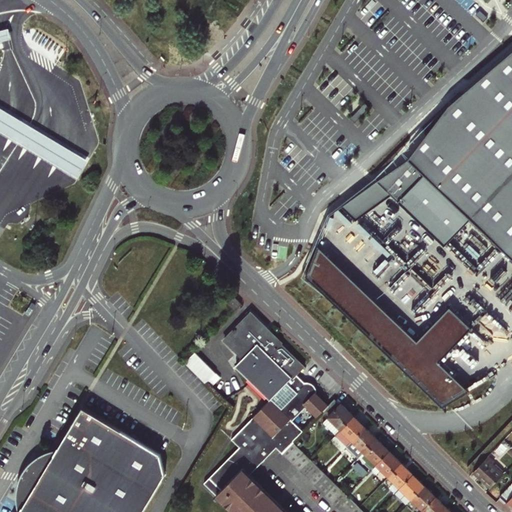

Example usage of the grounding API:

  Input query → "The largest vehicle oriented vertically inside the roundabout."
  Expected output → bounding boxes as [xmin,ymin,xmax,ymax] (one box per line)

[232,131,245,162]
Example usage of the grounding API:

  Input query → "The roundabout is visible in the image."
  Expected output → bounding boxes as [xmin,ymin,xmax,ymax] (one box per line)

[112,76,252,216]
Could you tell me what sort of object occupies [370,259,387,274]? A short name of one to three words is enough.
vehicle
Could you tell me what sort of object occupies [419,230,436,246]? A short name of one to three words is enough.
vehicle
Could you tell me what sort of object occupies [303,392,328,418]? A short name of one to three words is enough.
building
